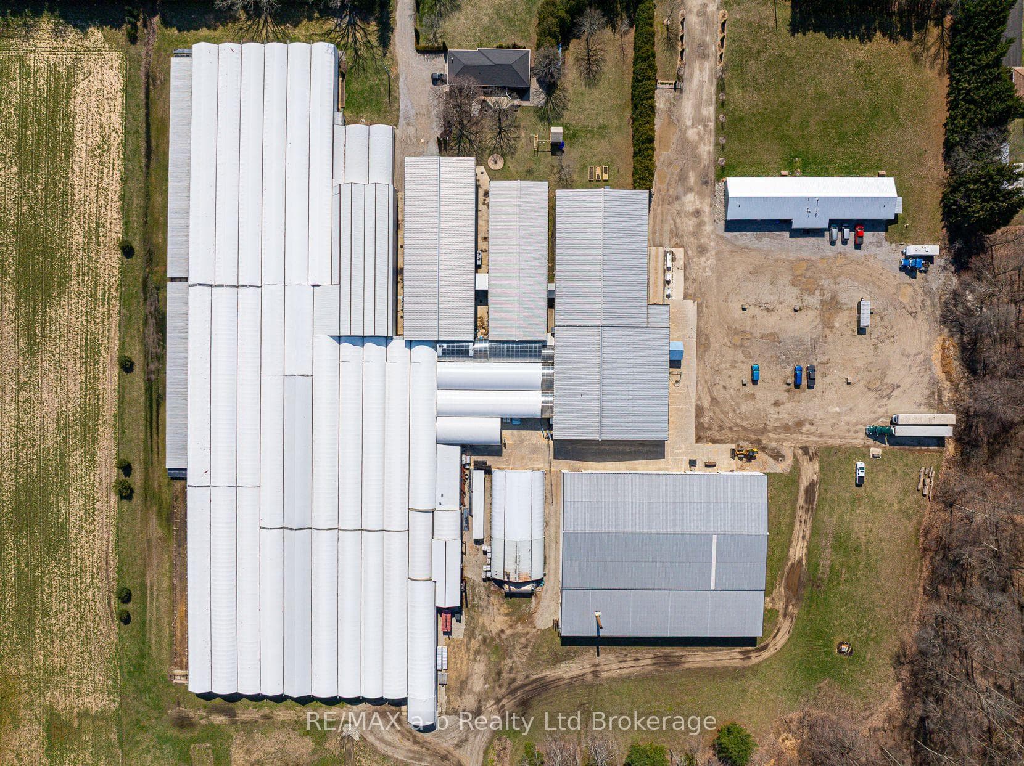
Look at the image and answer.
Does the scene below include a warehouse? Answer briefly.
Yes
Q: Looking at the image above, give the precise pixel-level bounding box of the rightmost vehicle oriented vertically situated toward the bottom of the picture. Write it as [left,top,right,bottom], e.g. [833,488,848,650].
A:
[854,461,866,485]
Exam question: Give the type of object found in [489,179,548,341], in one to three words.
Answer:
shed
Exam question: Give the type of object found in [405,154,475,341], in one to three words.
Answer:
shed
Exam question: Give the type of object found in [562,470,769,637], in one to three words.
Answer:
warehouse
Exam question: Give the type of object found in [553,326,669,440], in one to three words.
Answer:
building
